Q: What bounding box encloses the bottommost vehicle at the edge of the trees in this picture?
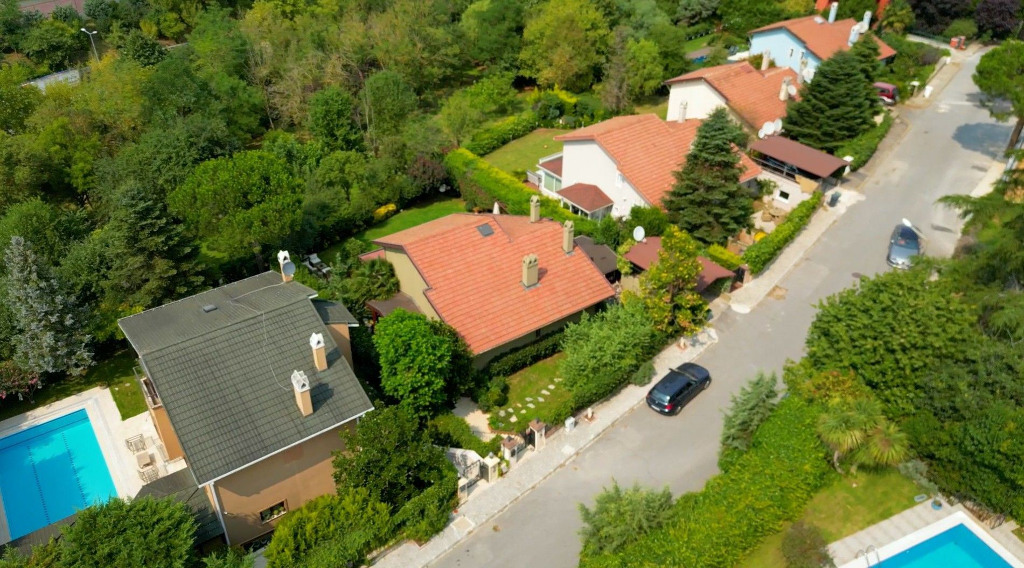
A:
[642,360,713,415]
